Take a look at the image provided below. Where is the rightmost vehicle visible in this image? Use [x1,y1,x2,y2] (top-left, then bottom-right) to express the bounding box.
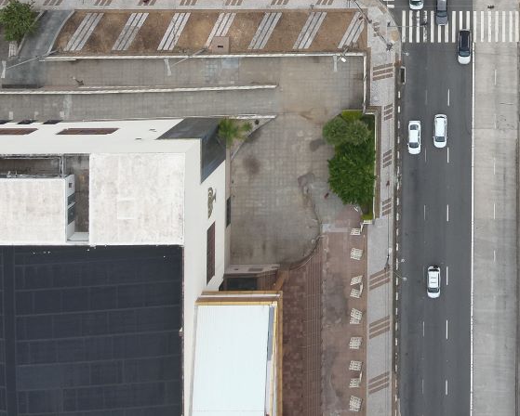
[456,29,473,63]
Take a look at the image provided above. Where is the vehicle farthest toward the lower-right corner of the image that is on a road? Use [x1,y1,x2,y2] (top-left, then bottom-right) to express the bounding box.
[425,265,442,296]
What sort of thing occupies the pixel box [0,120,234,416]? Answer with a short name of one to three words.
church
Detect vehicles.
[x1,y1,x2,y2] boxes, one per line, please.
[432,113,448,147]
[410,0,426,10]
[456,29,473,63]
[432,0,449,24]
[425,265,442,296]
[406,120,422,154]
